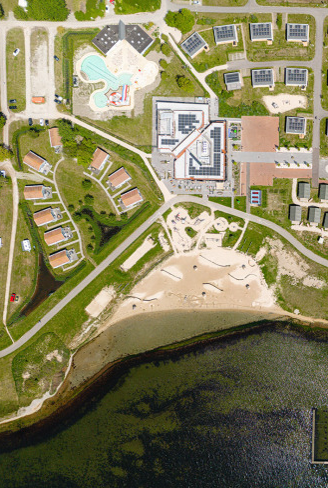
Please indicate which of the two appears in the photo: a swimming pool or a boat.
swimming pool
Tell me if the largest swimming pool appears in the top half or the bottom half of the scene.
top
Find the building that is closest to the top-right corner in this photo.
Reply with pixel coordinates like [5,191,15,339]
[287,23,309,48]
